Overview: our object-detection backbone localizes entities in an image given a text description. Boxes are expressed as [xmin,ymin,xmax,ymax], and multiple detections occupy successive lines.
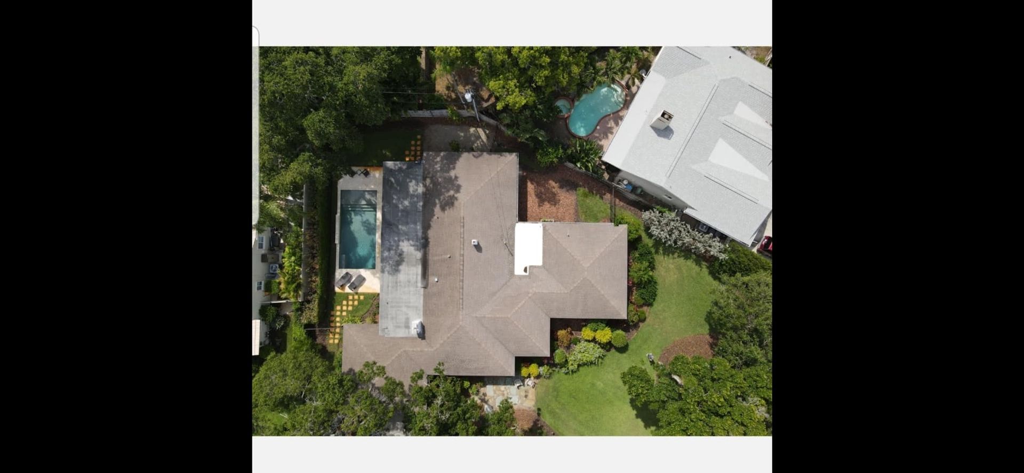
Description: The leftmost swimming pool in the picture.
[334,187,380,272]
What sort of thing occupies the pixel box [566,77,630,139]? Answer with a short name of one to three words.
swimming pool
